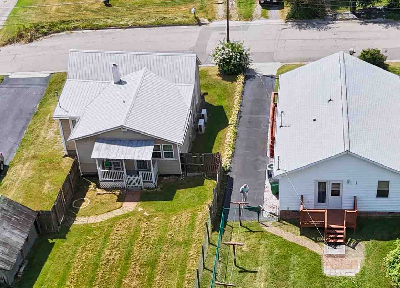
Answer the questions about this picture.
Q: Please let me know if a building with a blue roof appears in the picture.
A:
No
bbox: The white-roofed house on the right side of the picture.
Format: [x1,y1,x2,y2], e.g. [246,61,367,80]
[273,52,400,219]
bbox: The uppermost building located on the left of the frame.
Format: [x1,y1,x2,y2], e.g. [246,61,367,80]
[48,49,214,194]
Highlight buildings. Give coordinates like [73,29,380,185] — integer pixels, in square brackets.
[273,52,400,219]
[0,187,39,286]
[48,49,214,194]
